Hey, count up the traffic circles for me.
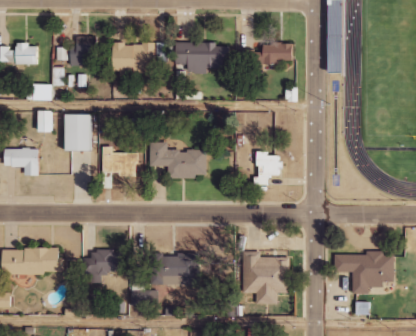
0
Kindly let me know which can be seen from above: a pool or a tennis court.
pool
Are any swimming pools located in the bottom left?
Yes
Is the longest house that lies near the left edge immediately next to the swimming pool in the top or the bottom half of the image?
bottom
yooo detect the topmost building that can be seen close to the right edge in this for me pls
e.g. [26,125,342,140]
[334,250,396,294]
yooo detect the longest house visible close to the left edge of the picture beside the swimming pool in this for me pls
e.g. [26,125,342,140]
[0,247,60,274]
